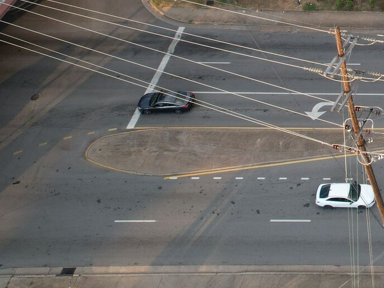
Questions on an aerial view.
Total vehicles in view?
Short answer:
2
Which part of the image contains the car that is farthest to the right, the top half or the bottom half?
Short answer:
bottom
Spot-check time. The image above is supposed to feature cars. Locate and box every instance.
[312,184,375,213]
[135,89,194,114]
